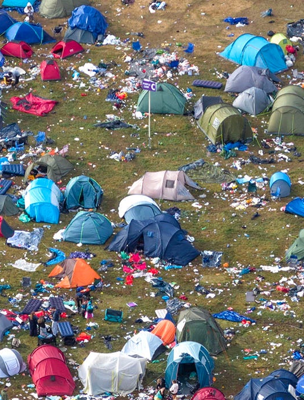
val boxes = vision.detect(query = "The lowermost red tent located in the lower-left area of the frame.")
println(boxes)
[28,344,75,395]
